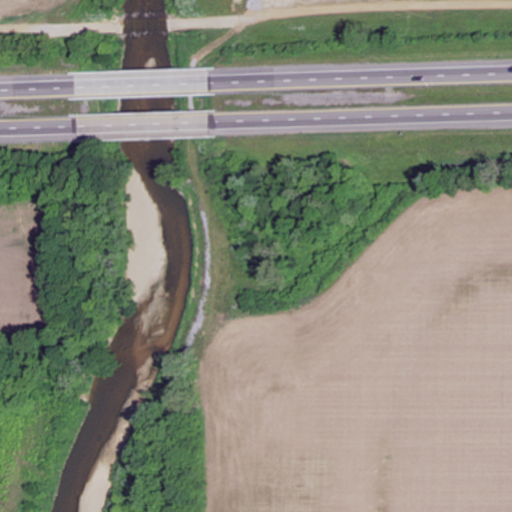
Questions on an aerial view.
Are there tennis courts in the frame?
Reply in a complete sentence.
No, this view has no tennis court in it.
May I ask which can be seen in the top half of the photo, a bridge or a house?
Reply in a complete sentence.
What appears in the top half of the photo is a bridge.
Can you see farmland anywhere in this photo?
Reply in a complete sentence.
Yes, farmland shows up in the scene.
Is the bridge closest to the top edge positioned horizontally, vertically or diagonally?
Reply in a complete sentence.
From this overhead view, the bridge closest to the top edge appears to run horizontally.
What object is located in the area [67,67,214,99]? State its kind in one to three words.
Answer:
bridge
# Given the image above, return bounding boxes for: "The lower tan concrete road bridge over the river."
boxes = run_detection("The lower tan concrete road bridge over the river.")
[69,110,214,142]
